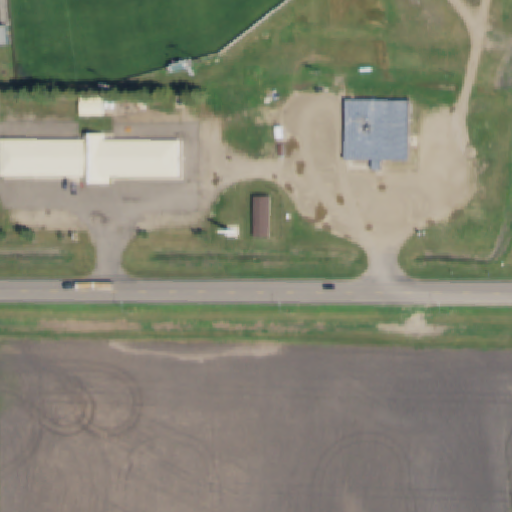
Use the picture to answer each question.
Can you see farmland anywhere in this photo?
Yes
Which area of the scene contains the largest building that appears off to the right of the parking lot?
top right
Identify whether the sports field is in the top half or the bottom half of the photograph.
top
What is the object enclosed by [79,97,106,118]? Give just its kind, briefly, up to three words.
shed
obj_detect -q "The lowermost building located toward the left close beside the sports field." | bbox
[0,133,183,186]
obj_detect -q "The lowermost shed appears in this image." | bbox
[254,199,270,240]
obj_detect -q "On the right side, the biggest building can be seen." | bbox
[344,98,410,169]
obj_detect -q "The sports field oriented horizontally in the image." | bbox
[10,0,288,82]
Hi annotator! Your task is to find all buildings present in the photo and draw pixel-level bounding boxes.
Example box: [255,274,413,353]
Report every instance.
[274,125,284,141]
[344,98,410,169]
[79,97,106,118]
[254,199,270,240]
[0,133,183,186]
[0,26,10,46]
